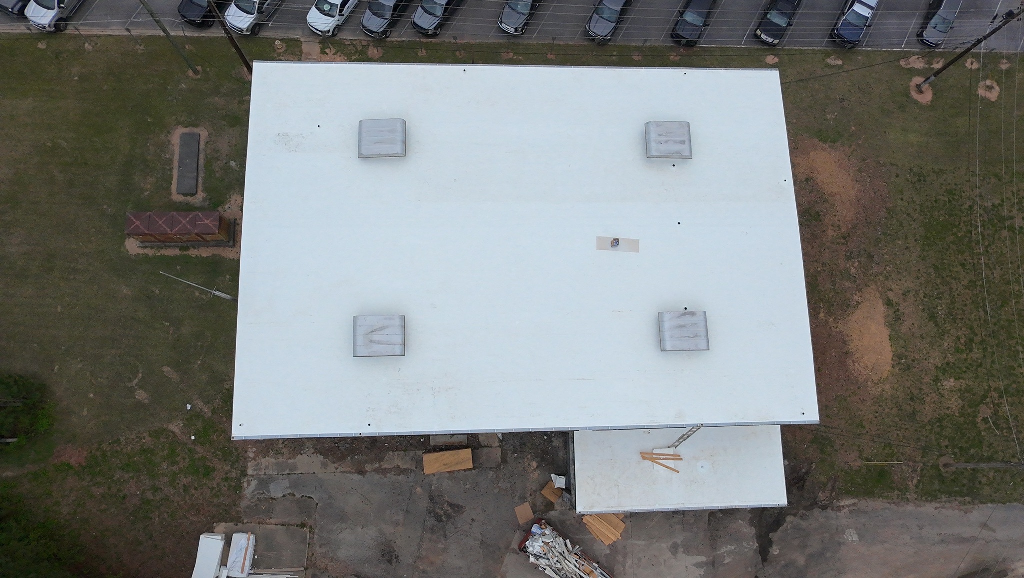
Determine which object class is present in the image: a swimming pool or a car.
car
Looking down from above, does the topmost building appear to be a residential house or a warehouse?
warehouse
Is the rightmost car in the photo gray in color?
Yes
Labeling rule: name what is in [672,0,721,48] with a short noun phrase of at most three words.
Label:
car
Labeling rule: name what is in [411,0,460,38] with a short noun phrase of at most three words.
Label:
truck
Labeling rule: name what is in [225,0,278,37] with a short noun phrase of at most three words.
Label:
truck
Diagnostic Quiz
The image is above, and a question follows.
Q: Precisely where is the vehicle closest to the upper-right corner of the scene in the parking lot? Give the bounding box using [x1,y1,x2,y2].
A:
[915,0,965,52]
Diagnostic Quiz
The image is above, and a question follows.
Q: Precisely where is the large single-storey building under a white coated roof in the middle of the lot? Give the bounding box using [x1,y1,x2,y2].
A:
[232,61,822,440]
